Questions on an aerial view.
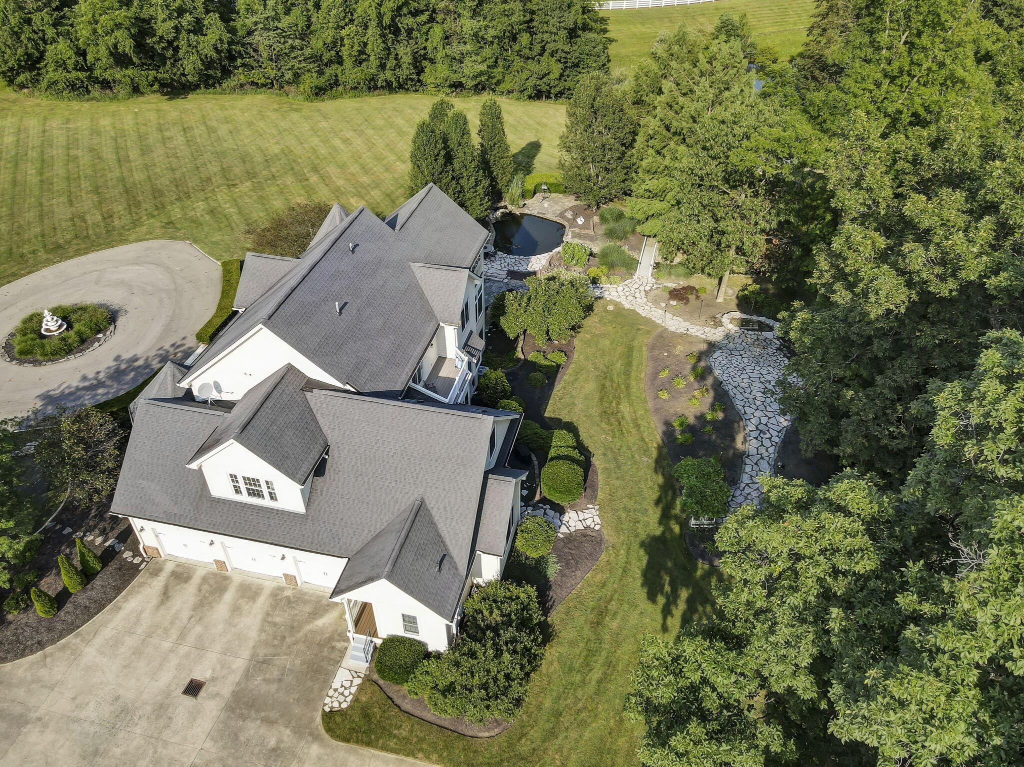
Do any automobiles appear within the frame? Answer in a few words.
No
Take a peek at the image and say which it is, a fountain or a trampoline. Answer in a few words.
fountain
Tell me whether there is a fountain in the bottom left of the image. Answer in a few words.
No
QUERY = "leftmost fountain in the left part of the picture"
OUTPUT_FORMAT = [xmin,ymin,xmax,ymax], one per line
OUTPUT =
[36,307,66,337]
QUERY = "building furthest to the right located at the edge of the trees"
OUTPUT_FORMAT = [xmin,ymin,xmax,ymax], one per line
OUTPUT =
[108,183,528,664]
